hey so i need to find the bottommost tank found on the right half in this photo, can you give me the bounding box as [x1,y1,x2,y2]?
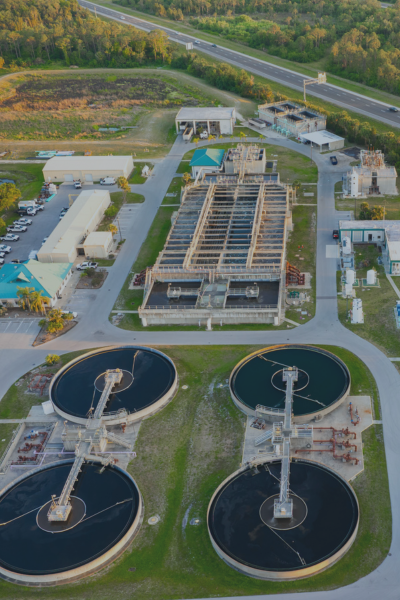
[205,462,361,585]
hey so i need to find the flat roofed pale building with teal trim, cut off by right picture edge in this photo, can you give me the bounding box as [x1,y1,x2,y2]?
[337,220,400,275]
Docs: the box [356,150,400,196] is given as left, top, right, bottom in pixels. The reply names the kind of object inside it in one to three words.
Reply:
building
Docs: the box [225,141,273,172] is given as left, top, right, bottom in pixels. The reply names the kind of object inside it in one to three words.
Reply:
building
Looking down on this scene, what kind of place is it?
industrial area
